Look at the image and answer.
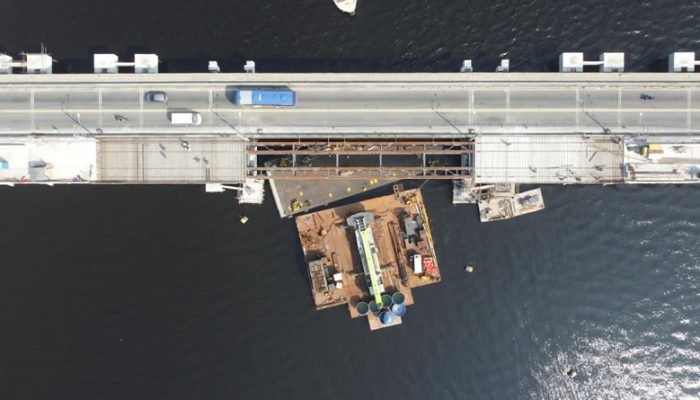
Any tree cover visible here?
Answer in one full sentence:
No, tree cover can't be seen anywhere here.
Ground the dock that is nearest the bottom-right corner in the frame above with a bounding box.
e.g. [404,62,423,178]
[513,188,545,216]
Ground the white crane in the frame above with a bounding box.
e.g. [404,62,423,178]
[348,213,389,312]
